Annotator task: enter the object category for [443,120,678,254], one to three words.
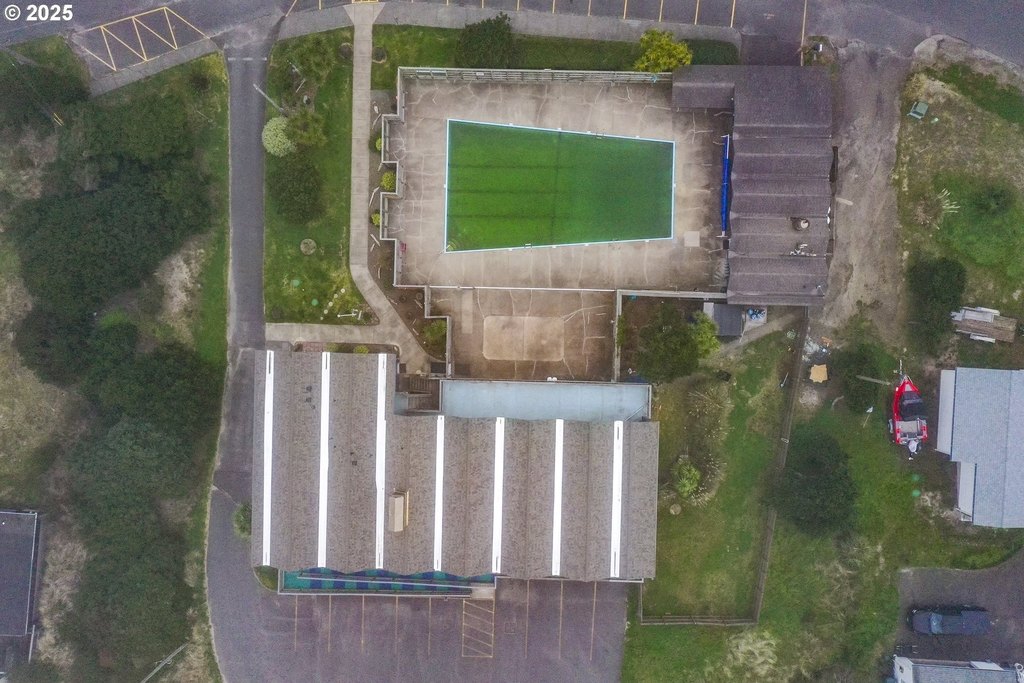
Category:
swimming pool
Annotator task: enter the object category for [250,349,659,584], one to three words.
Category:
building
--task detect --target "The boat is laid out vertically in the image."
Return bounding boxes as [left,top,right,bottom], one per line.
[892,376,930,455]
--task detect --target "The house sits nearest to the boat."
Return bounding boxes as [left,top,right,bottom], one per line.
[936,366,1024,528]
